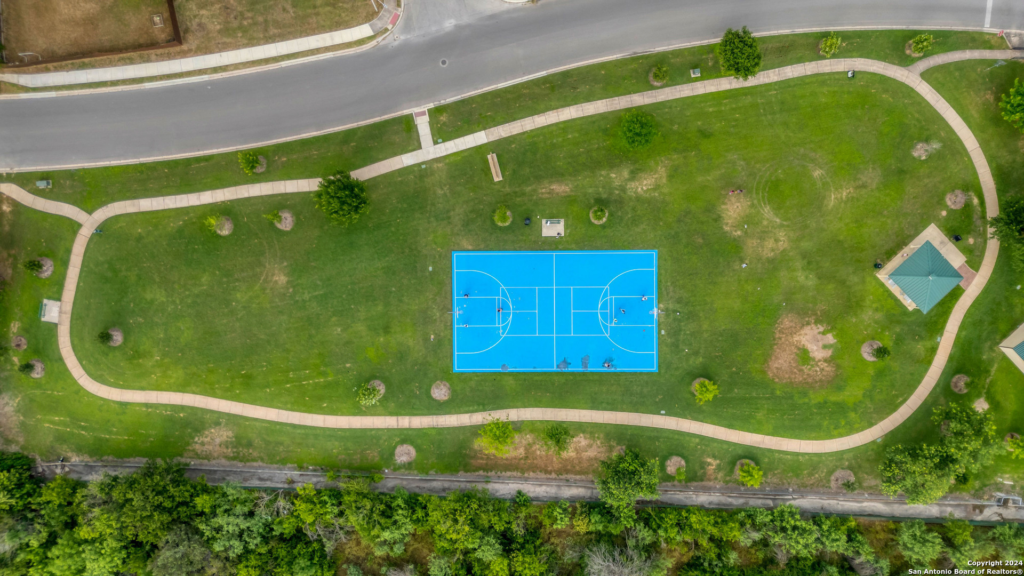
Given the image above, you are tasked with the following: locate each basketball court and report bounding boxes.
[453,250,658,373]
